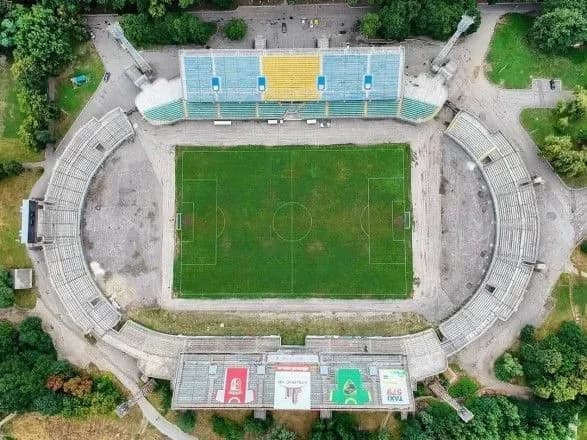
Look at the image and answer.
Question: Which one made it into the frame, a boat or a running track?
running track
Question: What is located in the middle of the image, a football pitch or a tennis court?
football pitch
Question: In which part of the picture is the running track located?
center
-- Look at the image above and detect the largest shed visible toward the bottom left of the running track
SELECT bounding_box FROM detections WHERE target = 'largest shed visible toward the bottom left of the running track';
[15,269,32,289]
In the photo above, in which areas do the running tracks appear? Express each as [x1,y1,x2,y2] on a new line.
[139,122,450,321]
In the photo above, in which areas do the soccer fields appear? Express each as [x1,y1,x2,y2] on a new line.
[172,144,413,299]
